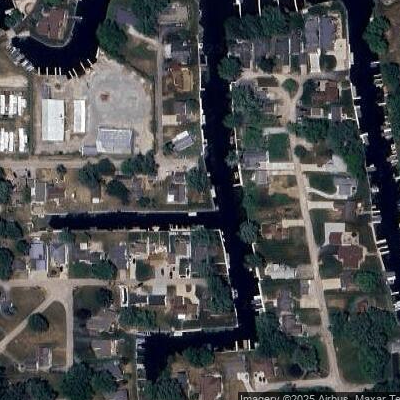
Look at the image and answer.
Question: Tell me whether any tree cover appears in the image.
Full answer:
Yes, the picture does contain tree cover.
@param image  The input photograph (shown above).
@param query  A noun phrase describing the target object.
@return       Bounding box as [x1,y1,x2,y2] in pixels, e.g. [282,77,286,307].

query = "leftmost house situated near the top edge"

[37,7,64,39]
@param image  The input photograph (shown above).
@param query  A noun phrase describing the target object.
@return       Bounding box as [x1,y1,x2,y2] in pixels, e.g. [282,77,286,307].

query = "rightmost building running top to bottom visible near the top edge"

[321,17,336,54]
